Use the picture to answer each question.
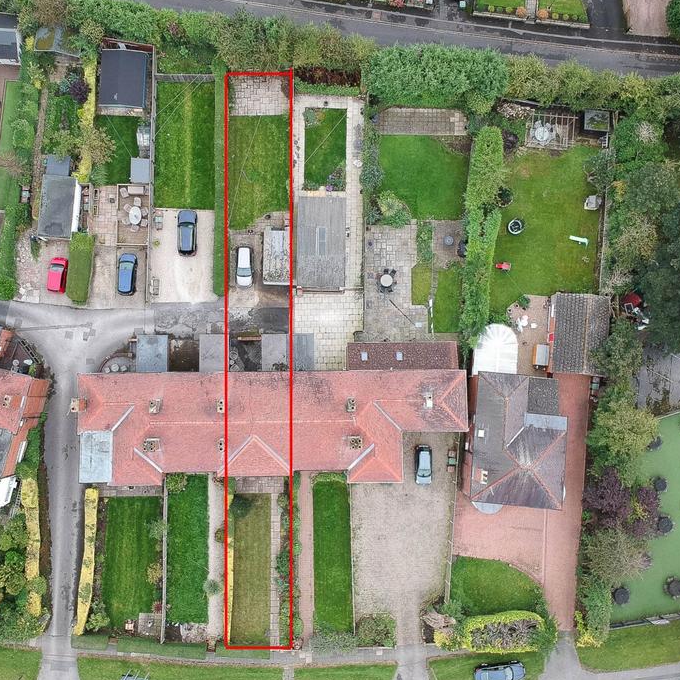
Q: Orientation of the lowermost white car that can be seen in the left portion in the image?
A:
from top to bottom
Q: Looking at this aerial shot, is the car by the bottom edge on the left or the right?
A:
right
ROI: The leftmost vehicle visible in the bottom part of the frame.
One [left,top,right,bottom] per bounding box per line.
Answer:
[412,442,434,484]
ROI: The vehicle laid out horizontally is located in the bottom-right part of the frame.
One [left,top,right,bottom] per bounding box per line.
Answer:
[472,658,523,680]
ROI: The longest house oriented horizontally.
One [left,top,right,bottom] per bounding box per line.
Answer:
[68,368,468,485]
